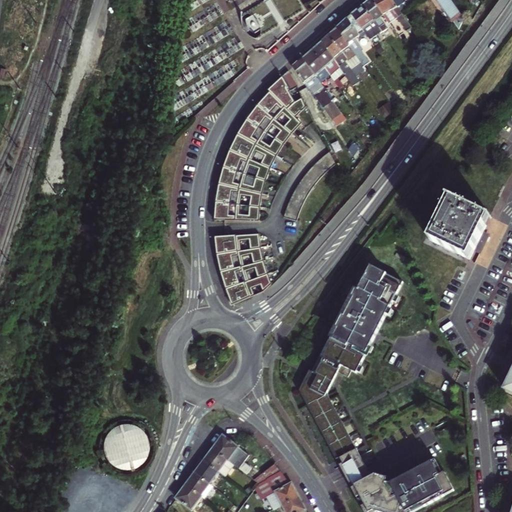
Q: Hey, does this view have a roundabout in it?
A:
Yes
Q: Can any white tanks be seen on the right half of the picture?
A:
No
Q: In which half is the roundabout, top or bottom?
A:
bottom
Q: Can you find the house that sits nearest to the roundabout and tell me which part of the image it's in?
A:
center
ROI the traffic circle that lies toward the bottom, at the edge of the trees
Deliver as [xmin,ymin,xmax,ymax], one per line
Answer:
[162,306,262,406]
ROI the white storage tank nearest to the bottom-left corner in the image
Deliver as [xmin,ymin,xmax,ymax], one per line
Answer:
[104,424,152,470]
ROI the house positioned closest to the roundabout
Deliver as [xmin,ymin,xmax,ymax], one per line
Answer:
[226,283,250,304]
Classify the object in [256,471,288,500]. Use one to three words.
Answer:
building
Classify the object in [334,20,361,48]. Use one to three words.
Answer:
house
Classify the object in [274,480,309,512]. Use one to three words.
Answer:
house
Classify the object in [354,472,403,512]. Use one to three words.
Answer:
building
